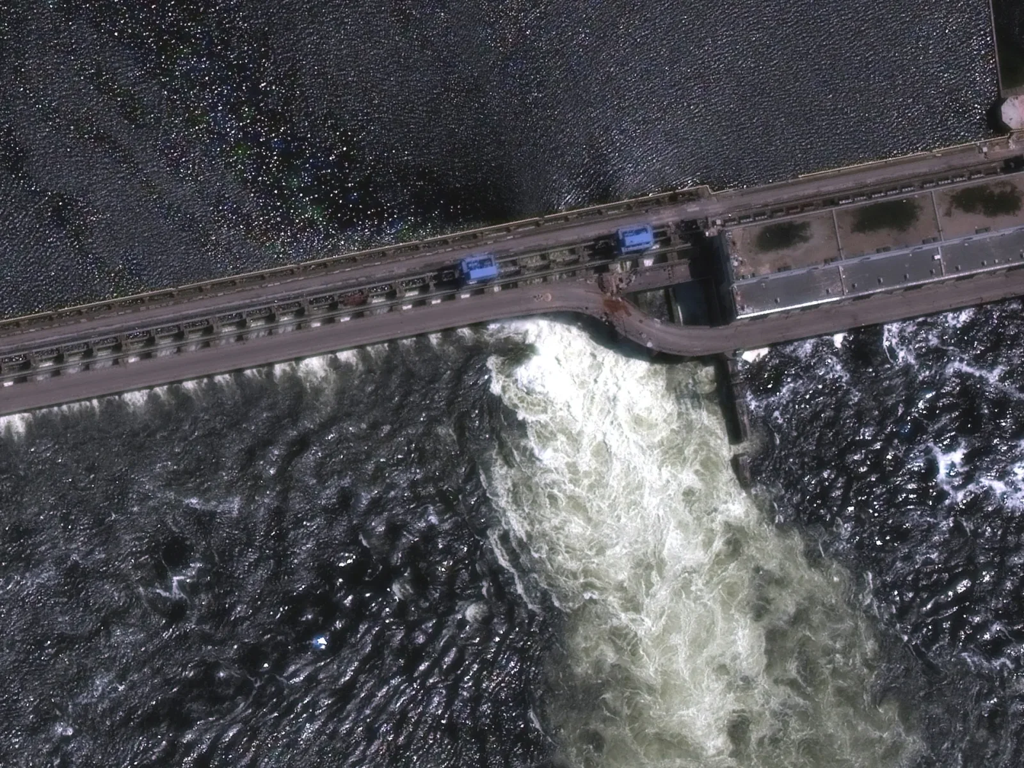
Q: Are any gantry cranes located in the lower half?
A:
No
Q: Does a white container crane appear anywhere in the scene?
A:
No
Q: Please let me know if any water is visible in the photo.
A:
Yes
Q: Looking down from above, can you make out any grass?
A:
No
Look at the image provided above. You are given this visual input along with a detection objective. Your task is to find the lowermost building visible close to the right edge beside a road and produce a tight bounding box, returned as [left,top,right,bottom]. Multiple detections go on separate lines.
[711,171,1024,320]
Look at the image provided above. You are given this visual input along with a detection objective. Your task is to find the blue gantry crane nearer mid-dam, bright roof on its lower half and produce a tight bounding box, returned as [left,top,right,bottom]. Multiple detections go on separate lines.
[453,251,496,290]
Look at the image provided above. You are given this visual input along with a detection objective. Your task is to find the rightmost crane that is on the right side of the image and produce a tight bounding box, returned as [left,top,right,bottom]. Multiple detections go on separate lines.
[611,223,654,263]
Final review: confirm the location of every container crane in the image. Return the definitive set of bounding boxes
[611,223,654,263]
[453,251,496,290]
